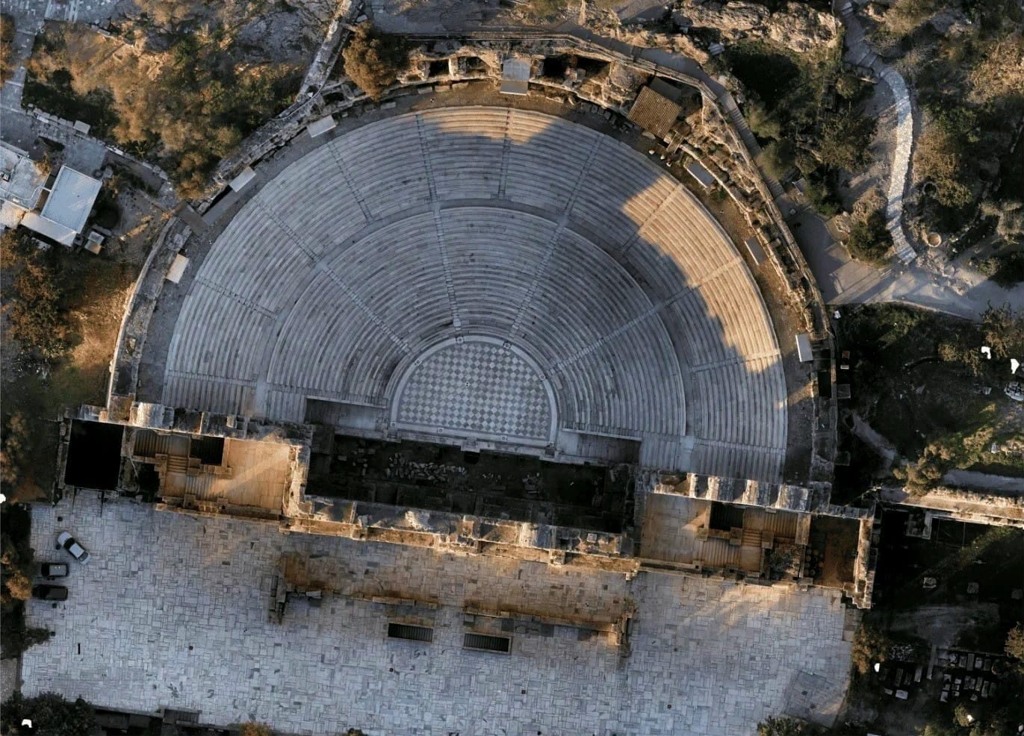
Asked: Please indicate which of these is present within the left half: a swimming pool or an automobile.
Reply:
automobile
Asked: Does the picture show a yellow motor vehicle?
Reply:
No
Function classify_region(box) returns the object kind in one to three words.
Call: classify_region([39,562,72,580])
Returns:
car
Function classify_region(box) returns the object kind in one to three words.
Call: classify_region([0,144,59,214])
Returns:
house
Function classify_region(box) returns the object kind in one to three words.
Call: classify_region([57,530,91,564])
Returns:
car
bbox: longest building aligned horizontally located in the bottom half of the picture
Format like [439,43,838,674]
[53,404,878,610]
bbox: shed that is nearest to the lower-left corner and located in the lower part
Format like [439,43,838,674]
[94,706,166,735]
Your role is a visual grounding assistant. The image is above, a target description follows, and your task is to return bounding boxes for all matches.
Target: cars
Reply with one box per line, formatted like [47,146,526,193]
[32,584,70,603]
[39,562,72,580]
[57,530,91,564]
